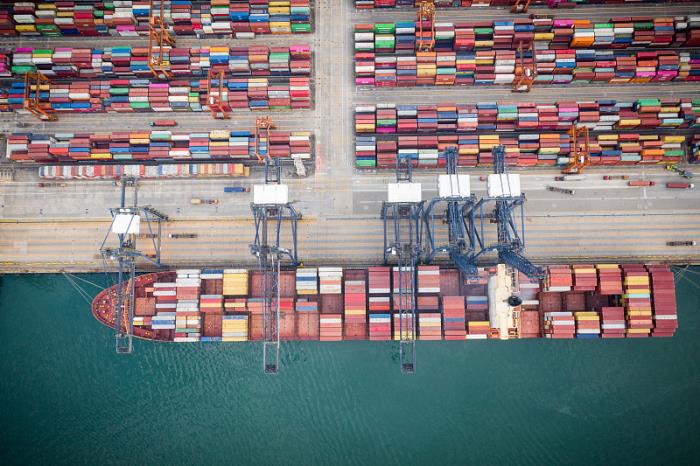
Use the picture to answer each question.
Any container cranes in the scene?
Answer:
Yes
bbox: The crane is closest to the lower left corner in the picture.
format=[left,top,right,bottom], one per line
[102,176,176,354]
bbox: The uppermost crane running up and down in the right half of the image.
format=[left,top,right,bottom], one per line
[413,1,437,54]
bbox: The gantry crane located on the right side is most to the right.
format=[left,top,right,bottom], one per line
[560,125,592,174]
